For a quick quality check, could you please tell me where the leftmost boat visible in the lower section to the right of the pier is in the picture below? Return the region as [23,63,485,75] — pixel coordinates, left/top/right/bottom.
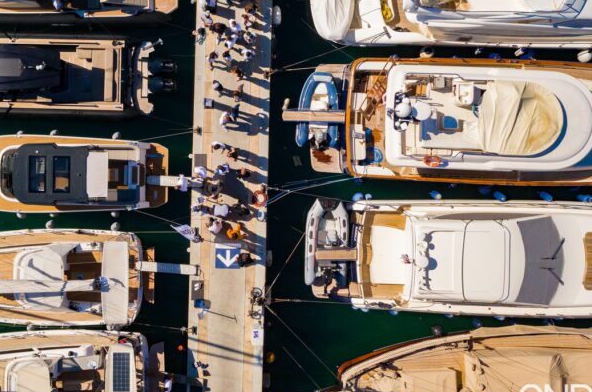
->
[304,198,349,288]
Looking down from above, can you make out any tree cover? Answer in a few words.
No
